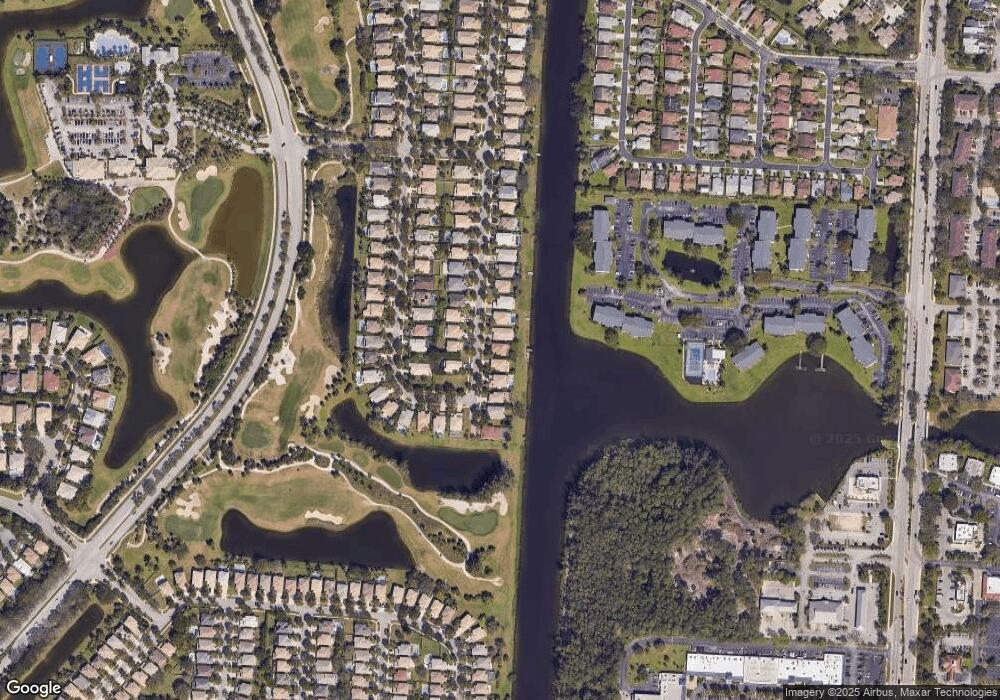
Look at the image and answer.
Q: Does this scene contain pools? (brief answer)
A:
Yes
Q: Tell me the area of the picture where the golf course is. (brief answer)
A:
left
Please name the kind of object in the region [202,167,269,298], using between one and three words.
pond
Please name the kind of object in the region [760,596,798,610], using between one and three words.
building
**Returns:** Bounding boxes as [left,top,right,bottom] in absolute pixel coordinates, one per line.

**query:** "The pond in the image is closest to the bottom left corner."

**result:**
[6,604,104,700]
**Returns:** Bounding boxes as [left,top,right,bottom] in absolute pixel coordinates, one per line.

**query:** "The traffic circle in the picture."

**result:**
[144,66,178,153]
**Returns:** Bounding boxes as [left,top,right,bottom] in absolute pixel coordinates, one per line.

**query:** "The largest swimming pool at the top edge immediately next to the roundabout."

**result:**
[90,28,139,58]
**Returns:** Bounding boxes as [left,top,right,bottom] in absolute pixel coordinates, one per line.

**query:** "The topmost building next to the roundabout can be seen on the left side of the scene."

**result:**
[142,46,179,64]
